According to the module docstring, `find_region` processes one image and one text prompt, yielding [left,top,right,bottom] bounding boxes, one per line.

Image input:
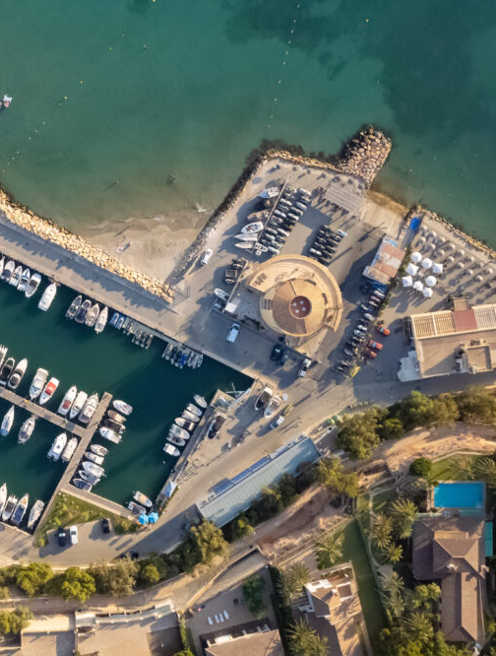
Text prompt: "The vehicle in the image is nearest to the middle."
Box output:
[227,322,240,342]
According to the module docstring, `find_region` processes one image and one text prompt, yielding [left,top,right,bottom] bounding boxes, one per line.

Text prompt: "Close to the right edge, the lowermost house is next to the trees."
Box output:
[409,509,494,642]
